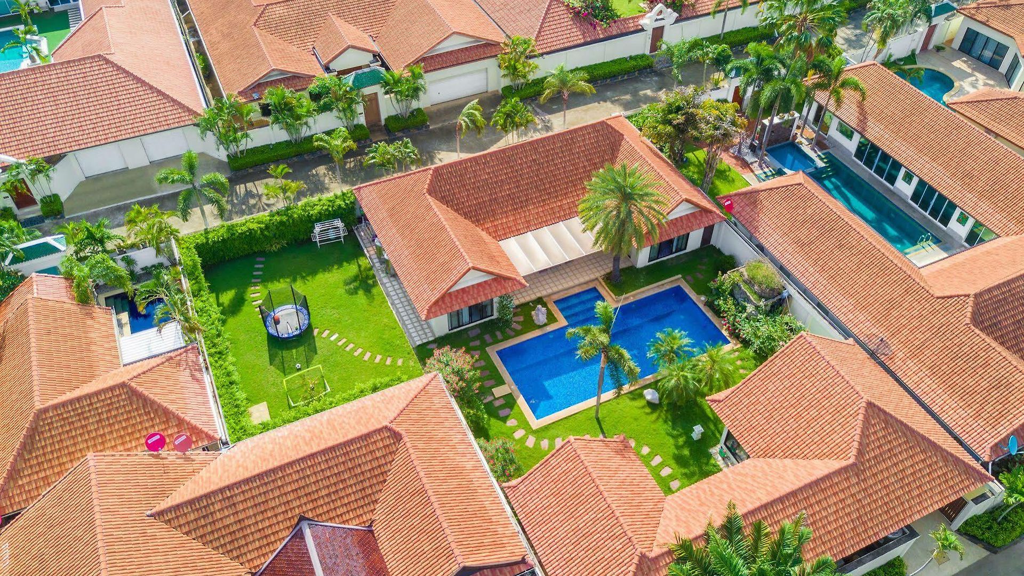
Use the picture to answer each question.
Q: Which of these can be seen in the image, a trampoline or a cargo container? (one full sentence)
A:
There is a trampoline in the scene.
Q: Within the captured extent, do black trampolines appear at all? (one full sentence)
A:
No, the photo shows no black trampoline.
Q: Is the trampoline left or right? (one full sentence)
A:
The trampoline sits on the left side.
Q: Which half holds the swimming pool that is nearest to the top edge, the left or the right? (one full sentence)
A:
It is on the left.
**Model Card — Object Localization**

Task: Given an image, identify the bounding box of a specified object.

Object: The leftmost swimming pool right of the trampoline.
[485,272,741,428]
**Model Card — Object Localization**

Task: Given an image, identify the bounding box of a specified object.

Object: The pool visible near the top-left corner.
[0,22,51,72]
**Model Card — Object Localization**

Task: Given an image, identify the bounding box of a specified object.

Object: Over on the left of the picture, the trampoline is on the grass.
[255,284,312,347]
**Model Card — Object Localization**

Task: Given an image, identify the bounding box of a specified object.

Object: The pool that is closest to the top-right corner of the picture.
[883,63,958,116]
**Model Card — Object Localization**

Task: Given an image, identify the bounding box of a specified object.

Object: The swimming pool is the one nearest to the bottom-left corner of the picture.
[105,274,184,332]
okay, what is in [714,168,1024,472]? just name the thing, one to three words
house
